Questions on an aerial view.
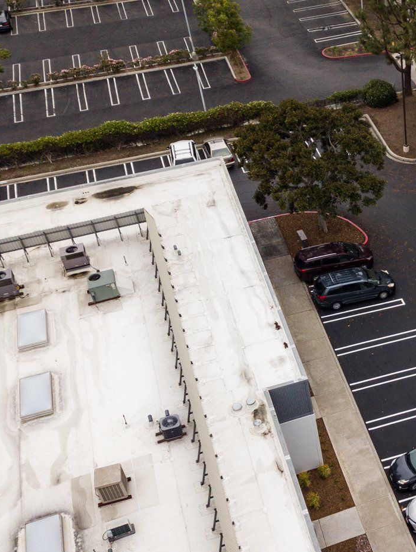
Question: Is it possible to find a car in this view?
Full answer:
Yes, looking at the shot, I can spot a car.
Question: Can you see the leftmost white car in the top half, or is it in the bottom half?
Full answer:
It is in the top half that the leftmost white car appears.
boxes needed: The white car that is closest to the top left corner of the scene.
[171,141,202,166]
